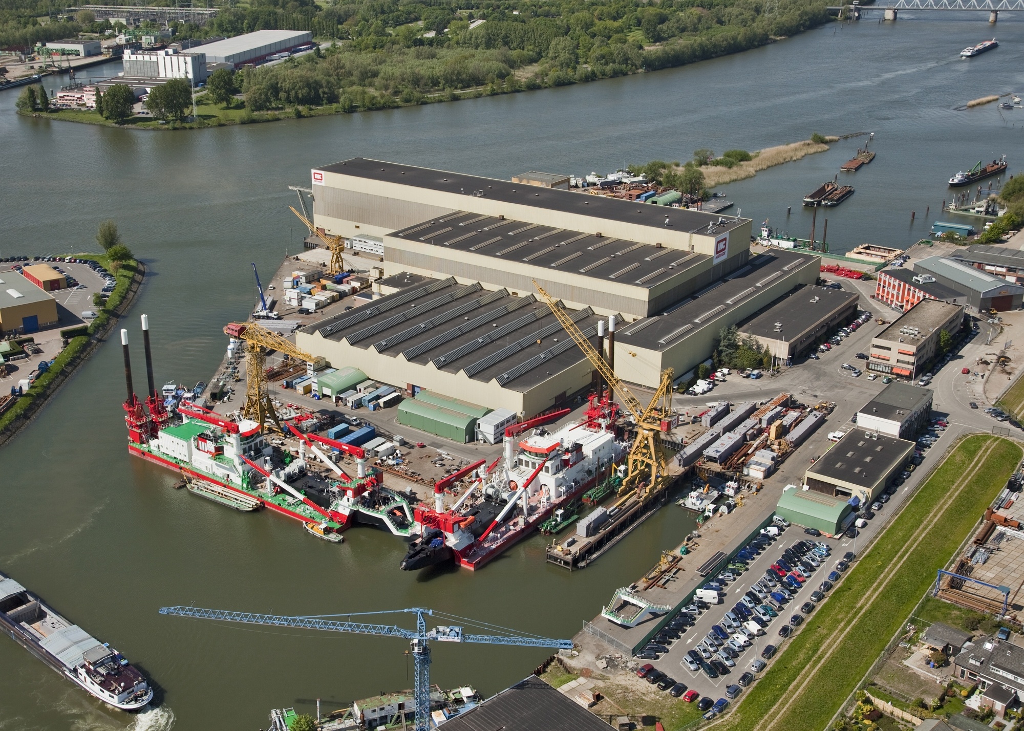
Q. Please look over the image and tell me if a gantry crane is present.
Yes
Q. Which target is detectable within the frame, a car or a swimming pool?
car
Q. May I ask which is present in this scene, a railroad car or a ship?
ship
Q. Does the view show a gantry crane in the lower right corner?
Yes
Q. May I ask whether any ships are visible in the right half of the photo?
Yes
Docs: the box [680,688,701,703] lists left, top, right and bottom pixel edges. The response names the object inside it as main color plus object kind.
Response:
red car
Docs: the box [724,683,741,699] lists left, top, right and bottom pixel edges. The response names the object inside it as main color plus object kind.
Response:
gray car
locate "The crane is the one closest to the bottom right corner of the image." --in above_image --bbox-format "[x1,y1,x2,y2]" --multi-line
[932,565,1018,617]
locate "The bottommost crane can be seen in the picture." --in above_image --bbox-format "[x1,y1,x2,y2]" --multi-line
[157,596,572,731]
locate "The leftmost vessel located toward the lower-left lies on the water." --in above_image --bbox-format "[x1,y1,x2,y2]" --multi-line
[0,601,151,718]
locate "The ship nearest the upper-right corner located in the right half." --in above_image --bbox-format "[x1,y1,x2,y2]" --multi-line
[958,30,1001,56]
